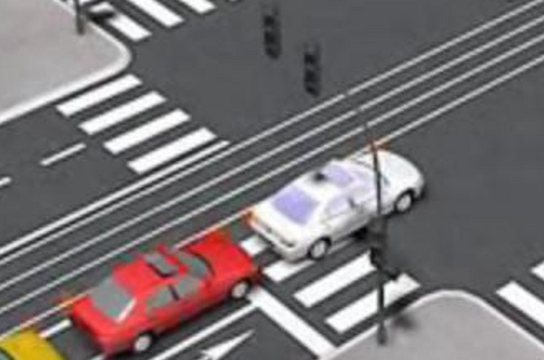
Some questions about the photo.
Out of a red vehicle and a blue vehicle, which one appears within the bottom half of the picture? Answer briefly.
red vehicle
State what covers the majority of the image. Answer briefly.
paved ground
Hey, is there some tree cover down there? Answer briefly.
No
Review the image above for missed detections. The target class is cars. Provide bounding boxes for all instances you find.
[69,234,261,357]
[0,329,67,360]
[249,154,424,262]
